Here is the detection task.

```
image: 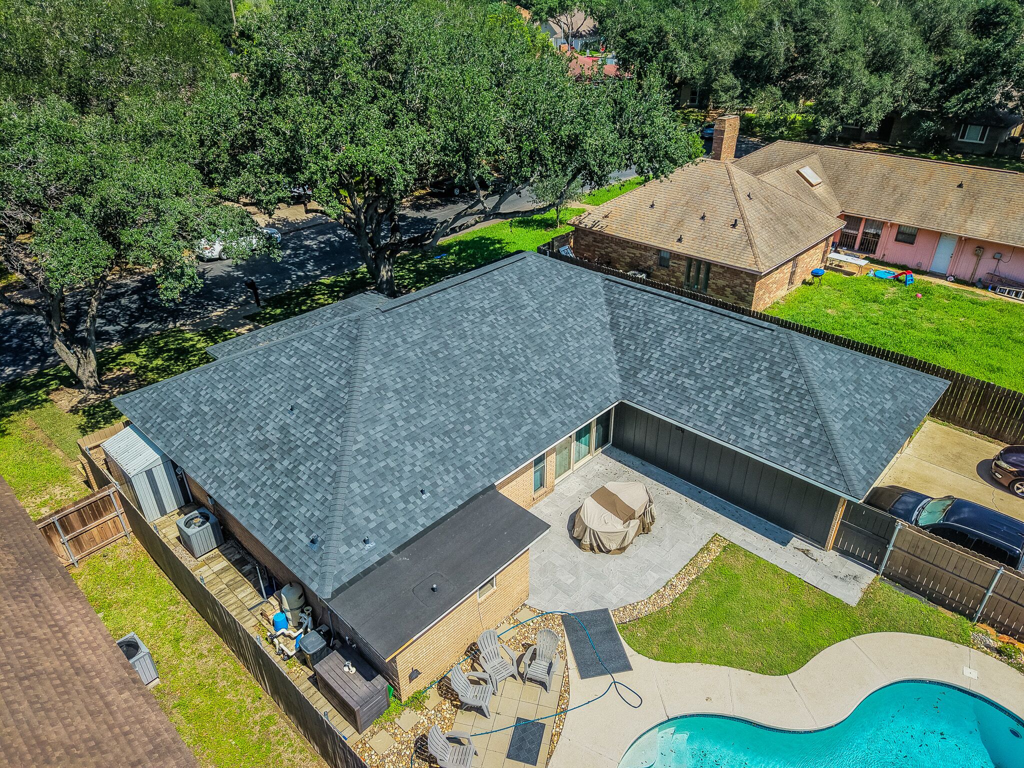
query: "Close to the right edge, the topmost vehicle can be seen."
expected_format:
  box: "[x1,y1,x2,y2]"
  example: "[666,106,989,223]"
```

[988,439,1024,494]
